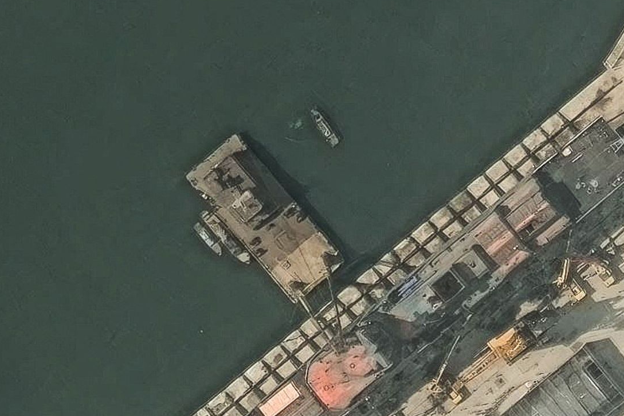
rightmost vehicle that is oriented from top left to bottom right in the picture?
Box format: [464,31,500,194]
[587,257,615,285]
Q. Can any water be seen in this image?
Yes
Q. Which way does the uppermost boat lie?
diagonally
